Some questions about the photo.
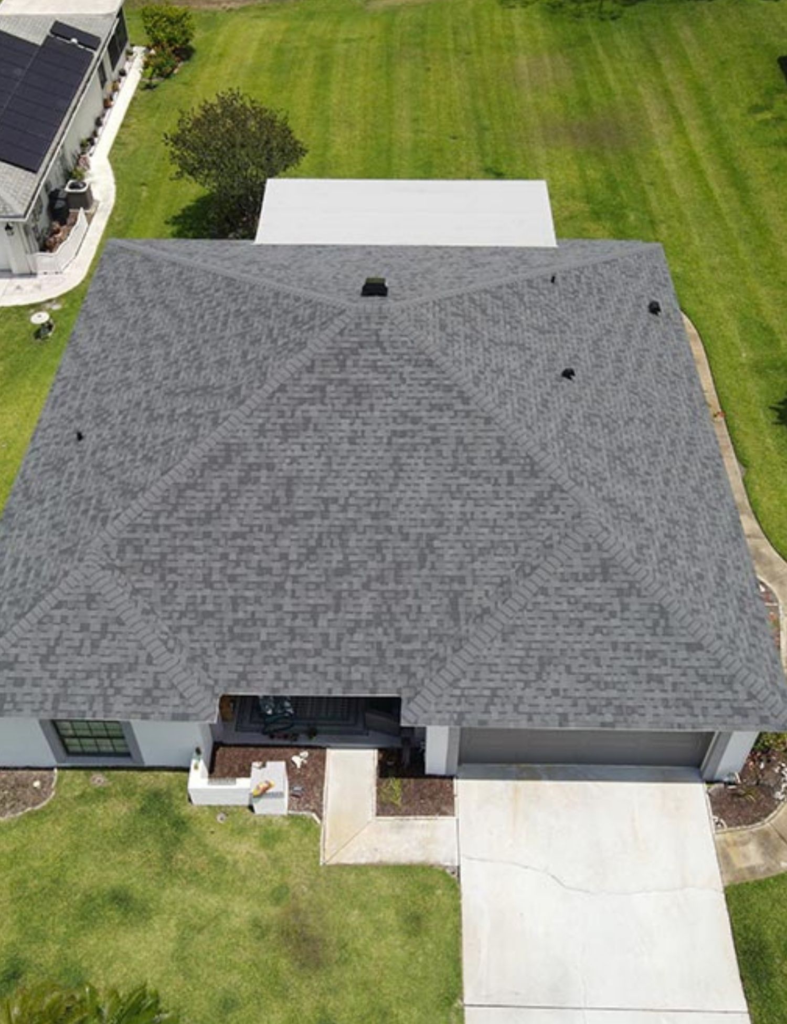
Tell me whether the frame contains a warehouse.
No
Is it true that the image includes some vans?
No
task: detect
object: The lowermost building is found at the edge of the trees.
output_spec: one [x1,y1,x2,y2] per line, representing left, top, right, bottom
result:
[0,176,787,781]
